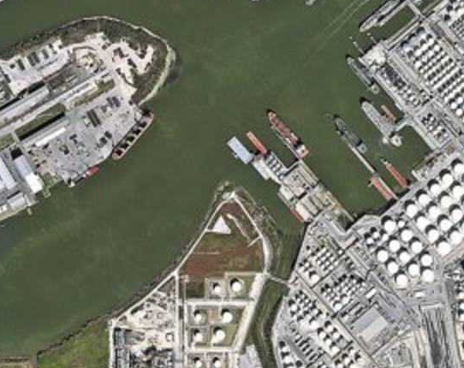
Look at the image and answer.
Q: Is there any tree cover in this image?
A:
No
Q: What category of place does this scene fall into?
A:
industrial area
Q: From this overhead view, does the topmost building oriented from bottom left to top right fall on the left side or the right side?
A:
left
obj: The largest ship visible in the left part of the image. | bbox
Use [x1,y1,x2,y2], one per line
[112,112,154,158]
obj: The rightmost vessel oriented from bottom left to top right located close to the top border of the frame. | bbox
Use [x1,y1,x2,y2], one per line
[361,0,401,30]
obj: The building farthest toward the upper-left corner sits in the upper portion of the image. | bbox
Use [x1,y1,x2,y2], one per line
[0,82,53,120]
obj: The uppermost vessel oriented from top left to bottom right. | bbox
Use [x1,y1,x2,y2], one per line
[349,57,374,86]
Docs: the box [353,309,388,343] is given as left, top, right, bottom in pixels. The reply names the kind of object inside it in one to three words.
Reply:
building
